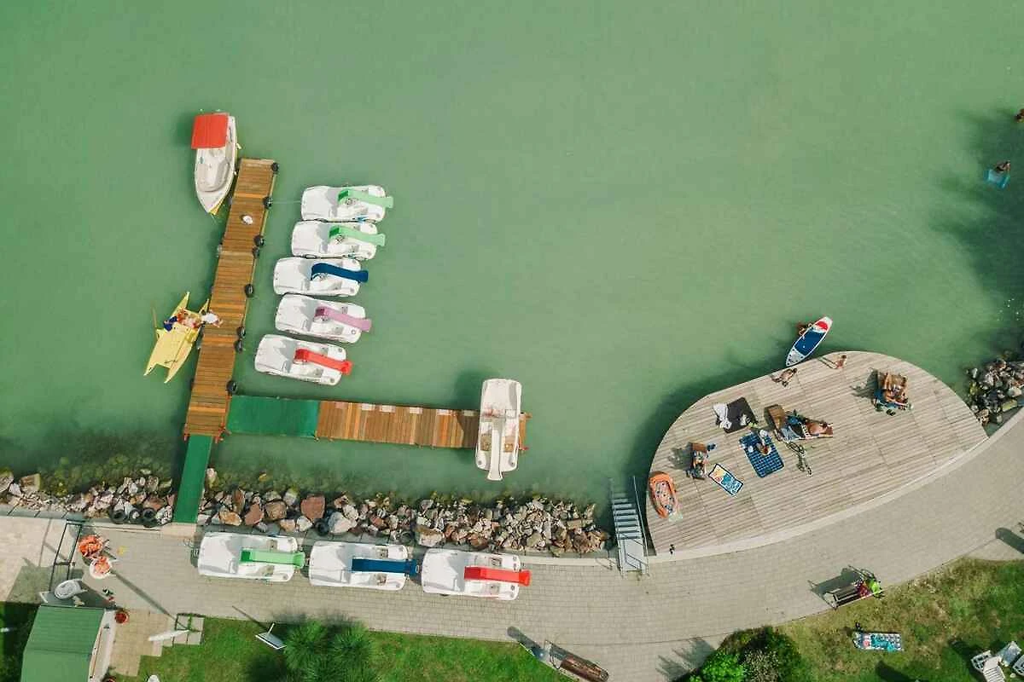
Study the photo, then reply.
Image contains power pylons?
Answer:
No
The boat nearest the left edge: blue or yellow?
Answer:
yellow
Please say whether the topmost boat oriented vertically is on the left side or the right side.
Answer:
left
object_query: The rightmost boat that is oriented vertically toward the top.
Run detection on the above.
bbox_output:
[193,111,245,215]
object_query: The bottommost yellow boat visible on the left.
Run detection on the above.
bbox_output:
[143,293,210,383]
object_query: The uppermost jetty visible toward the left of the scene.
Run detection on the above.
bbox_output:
[180,158,528,450]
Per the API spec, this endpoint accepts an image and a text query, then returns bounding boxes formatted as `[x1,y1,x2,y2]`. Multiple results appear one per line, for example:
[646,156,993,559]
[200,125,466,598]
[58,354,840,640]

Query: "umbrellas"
[150,629,192,641]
